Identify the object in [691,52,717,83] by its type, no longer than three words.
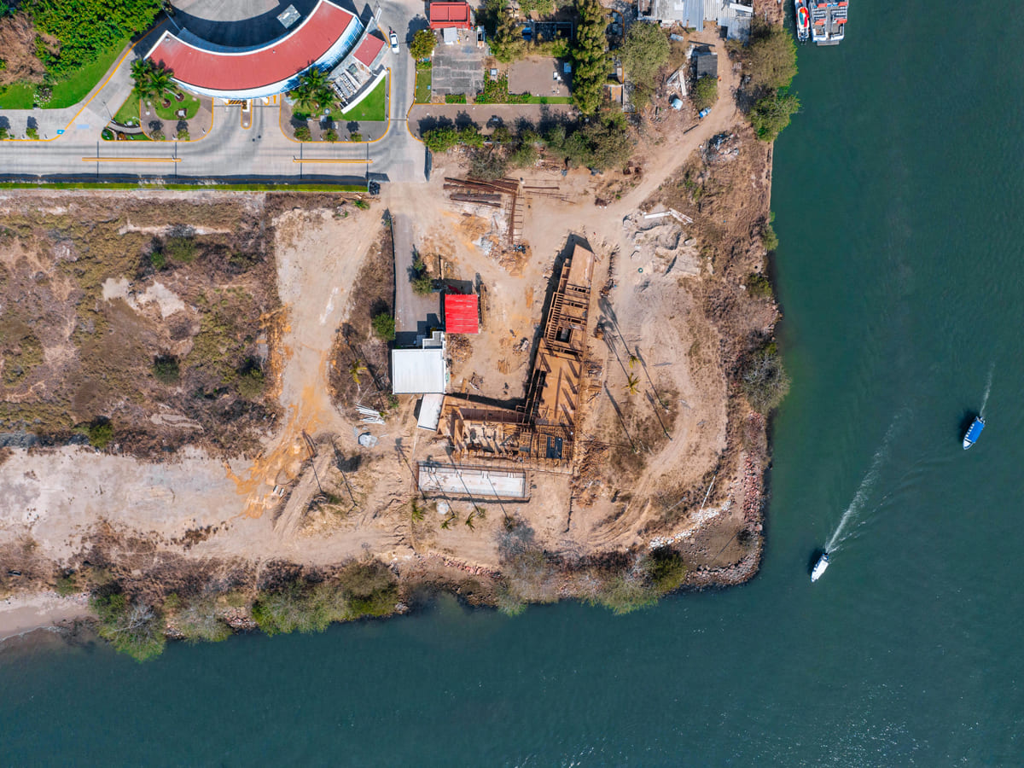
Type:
shed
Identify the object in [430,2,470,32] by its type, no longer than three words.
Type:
house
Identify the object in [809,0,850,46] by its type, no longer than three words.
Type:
boat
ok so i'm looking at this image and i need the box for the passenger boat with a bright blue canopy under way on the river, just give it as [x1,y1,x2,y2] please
[963,416,985,450]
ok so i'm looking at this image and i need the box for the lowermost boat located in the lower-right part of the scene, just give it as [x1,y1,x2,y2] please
[811,552,832,583]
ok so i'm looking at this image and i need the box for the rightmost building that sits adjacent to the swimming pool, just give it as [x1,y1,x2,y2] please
[437,245,594,476]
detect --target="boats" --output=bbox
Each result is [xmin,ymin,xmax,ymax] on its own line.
[809,0,850,46]
[963,416,985,450]
[811,552,832,583]
[795,0,811,43]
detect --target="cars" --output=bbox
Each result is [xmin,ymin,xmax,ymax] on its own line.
[389,31,401,53]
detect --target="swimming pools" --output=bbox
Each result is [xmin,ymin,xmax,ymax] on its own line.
[418,462,531,500]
